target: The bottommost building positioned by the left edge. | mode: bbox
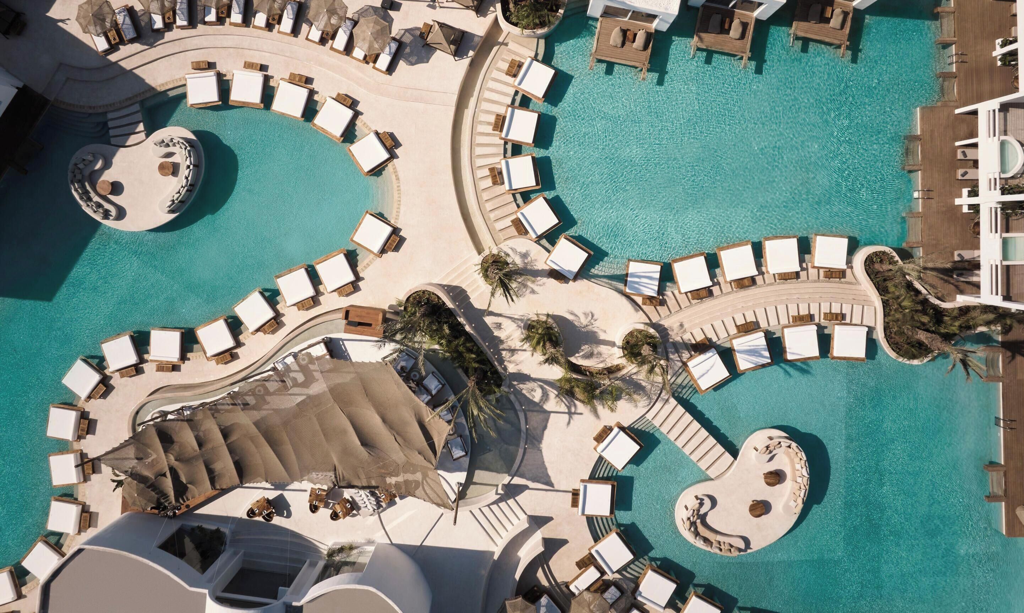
[36,516,237,613]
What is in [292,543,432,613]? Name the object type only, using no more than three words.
building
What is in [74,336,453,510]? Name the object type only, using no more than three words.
tent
